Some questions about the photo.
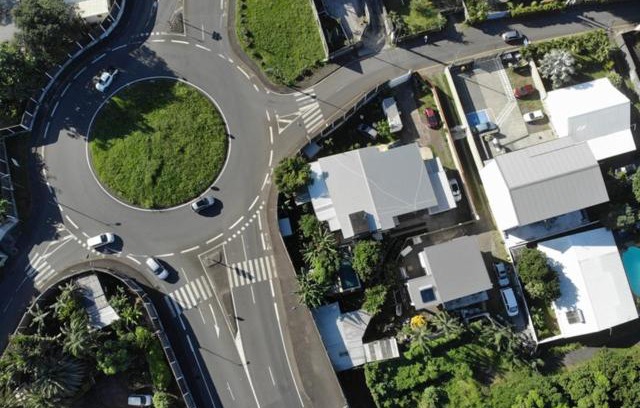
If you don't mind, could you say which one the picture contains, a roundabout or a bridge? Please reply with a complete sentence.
Visible in the photo is a roundabout.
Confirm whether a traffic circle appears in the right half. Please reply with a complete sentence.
No, no traffic circle appears in the right half.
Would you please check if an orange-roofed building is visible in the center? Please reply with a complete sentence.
No, I can find no orange-roofed building in the center.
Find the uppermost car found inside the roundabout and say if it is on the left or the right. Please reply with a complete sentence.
The uppermost car found inside the roundabout sits on the left side.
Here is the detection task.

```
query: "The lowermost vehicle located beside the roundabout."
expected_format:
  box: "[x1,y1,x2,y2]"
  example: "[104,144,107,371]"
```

[145,254,168,280]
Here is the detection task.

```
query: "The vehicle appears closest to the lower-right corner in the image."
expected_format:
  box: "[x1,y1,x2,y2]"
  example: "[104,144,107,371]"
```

[499,287,519,316]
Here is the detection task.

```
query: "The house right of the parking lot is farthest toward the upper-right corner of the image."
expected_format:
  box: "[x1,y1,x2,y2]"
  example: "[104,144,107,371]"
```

[538,77,636,161]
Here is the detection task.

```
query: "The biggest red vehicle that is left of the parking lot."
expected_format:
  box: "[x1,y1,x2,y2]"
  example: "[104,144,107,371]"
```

[424,107,438,129]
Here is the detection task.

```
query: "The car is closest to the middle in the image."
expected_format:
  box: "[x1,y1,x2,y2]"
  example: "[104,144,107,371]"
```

[357,122,379,140]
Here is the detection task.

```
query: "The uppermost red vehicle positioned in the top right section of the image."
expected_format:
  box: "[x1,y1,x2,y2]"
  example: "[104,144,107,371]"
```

[512,84,536,97]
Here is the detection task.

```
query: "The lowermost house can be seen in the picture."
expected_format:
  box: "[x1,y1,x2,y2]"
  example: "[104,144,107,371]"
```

[312,303,371,371]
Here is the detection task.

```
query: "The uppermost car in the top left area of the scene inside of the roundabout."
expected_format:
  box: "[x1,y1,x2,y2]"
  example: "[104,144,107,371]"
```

[95,67,117,91]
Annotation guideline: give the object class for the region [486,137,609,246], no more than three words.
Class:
house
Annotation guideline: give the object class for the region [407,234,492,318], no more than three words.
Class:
house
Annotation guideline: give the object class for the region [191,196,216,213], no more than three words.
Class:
car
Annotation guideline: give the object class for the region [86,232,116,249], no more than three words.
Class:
vehicle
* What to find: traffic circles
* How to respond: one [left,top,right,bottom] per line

[45,41,272,257]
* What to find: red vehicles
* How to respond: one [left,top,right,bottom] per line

[512,84,536,97]
[424,107,438,129]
